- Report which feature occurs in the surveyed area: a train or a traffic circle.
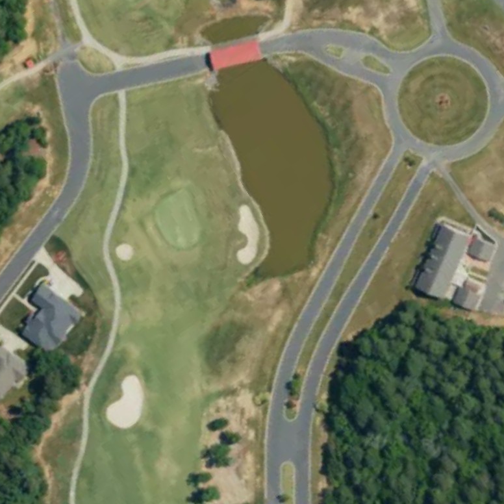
traffic circle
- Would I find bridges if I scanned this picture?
Yes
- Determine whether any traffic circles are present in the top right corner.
Yes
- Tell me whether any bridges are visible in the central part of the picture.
No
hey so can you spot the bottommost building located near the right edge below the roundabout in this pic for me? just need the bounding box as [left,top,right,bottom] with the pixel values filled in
[452,278,483,310]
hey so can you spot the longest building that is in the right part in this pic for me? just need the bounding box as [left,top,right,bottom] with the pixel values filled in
[415,222,472,298]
